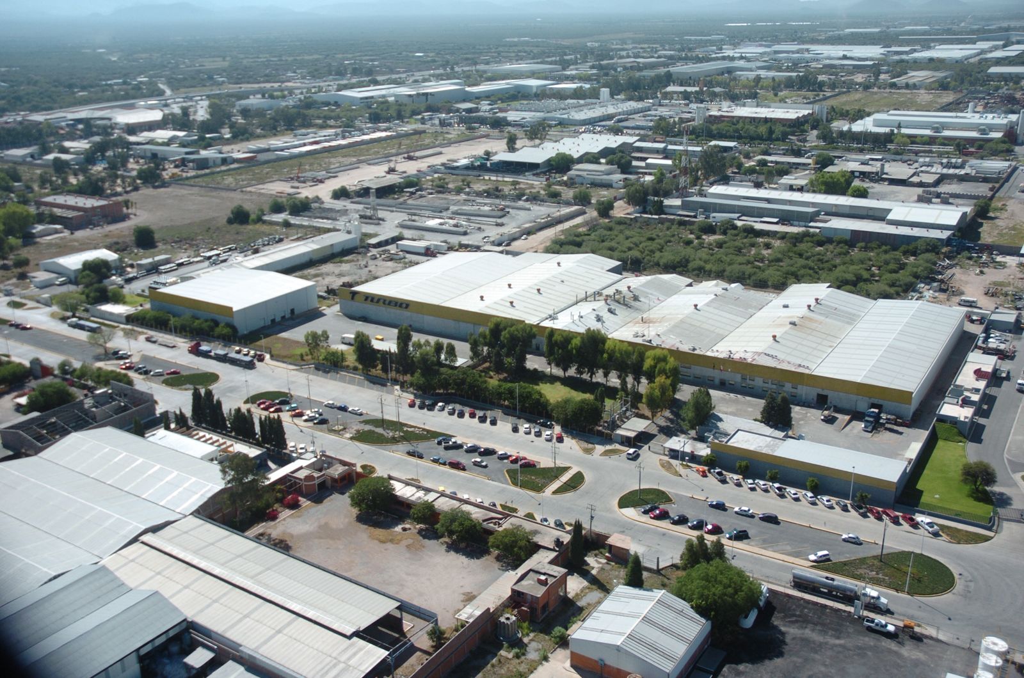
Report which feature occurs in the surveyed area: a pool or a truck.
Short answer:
truck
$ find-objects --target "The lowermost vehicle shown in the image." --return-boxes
[864,619,895,635]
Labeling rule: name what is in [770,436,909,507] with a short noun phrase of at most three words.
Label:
building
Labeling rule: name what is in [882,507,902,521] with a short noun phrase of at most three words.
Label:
vehicle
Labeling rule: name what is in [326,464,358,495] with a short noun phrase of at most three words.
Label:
house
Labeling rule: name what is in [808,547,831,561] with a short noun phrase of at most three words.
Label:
vehicle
